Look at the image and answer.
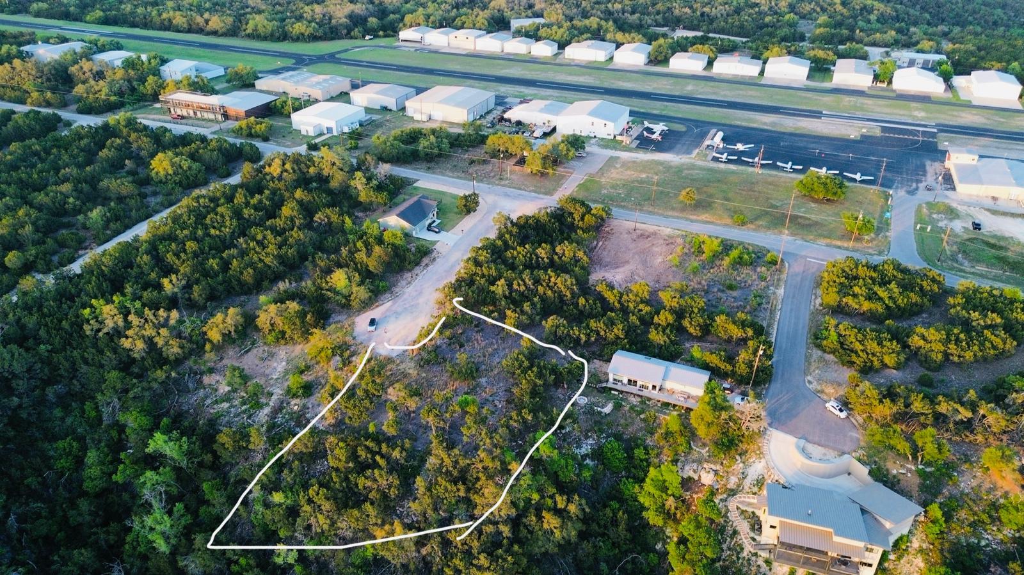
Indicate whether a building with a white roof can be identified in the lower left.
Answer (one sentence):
No, there is no building with a white roof in the lower left.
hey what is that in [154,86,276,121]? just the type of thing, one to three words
building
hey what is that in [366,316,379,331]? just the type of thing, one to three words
vehicle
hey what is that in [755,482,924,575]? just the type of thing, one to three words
house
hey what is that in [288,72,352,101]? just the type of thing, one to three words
hangar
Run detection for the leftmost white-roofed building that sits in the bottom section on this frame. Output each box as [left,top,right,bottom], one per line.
[601,351,707,419]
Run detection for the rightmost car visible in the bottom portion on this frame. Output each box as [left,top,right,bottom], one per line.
[824,404,850,418]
